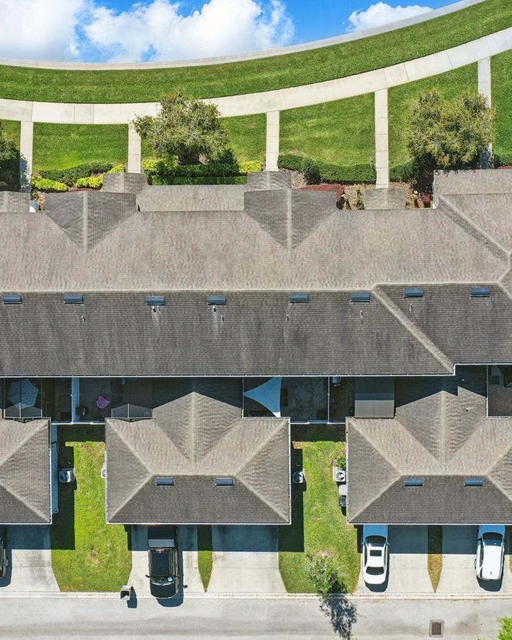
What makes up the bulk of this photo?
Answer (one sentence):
The largest share of the image is taken up by buildings.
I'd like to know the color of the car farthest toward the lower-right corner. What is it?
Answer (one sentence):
The car farthest toward the lower-right corner is white.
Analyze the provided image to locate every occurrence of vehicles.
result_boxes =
[146,526,181,594]
[359,526,392,586]
[474,526,509,580]
[0,526,10,580]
